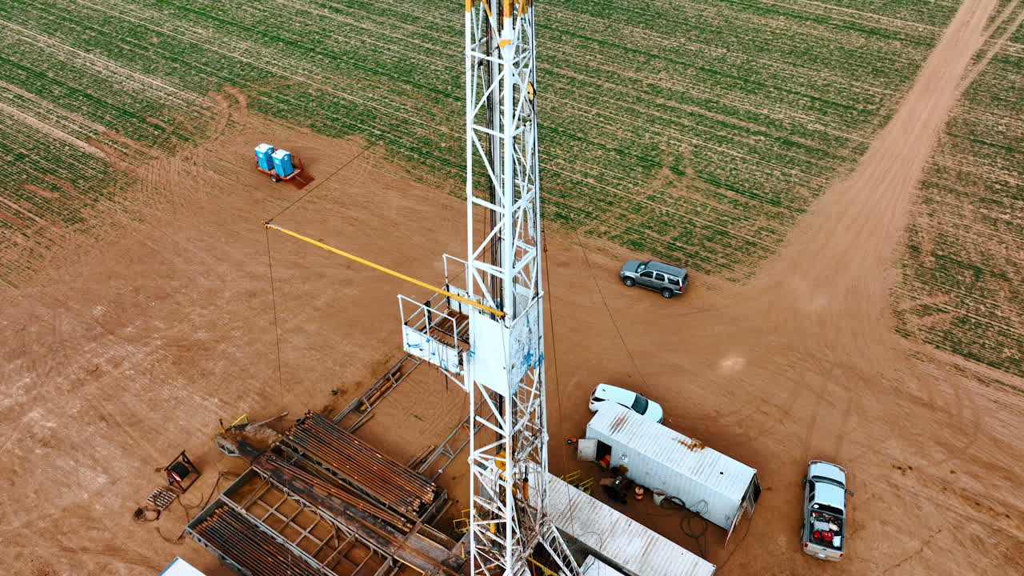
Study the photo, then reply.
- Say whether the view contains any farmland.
Yes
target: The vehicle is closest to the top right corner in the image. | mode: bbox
[617,263,691,301]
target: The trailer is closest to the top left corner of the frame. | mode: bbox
[253,158,319,191]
